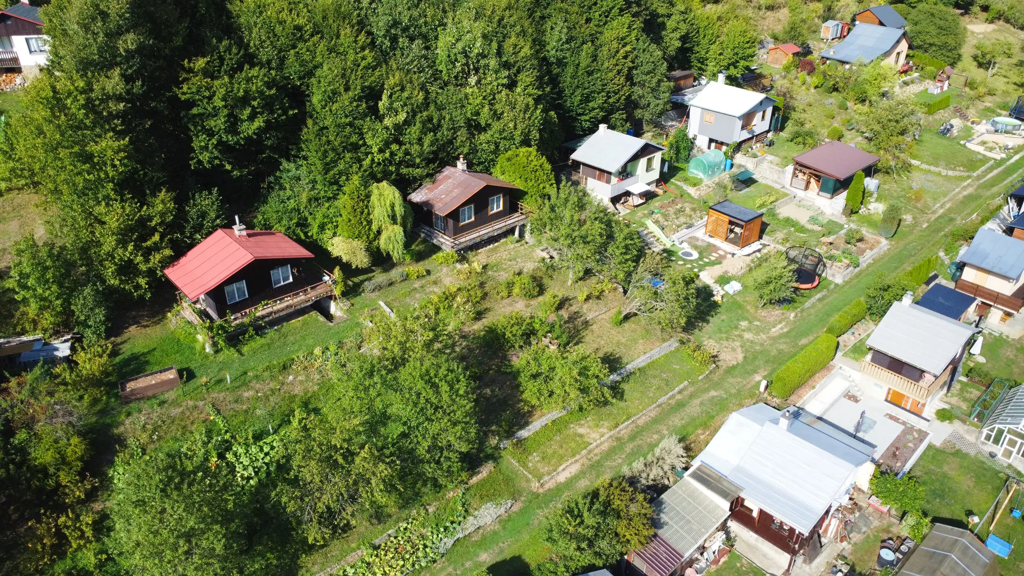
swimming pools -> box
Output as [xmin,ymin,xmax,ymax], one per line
[988,117,1024,138]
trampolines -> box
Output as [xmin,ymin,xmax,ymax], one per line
[1007,95,1024,119]
[784,244,827,293]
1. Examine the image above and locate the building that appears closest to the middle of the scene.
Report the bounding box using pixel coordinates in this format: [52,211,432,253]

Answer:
[408,155,529,251]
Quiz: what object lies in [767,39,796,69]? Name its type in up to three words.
shed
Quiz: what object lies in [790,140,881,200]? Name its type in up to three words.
shed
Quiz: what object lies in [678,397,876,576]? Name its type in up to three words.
house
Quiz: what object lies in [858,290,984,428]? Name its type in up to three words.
house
